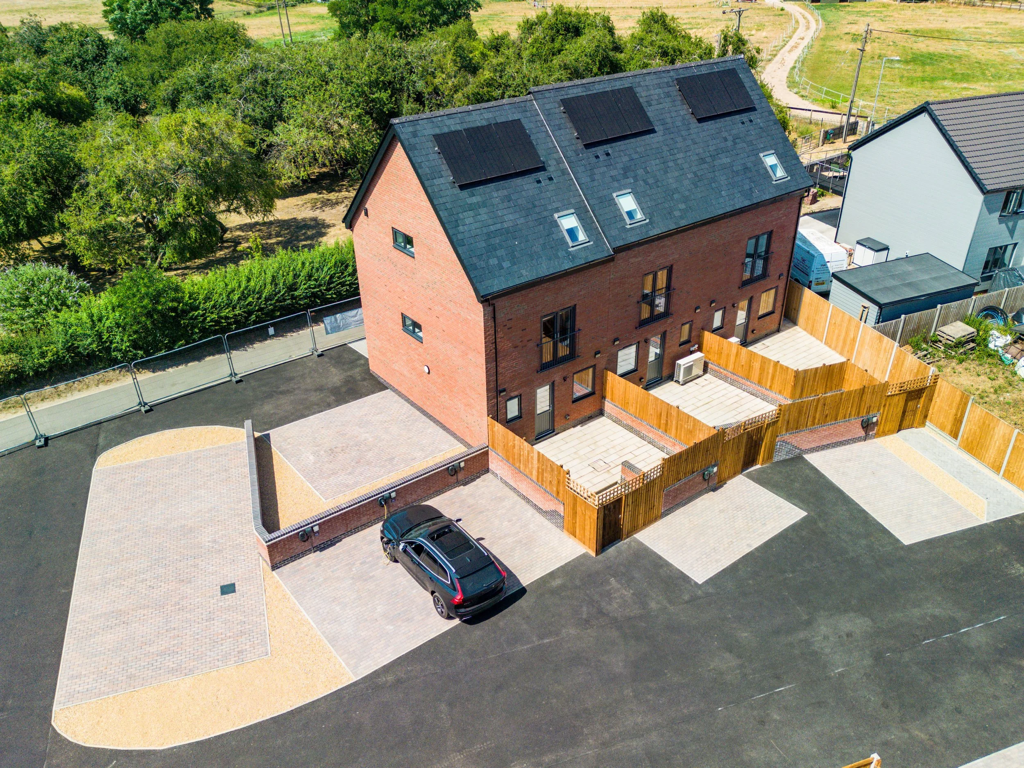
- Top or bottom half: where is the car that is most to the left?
bottom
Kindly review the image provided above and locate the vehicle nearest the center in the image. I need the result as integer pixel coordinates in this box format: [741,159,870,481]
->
[376,497,513,623]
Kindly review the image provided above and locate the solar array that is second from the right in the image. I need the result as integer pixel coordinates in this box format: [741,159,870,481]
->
[564,94,658,152]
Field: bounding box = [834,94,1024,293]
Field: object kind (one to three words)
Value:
house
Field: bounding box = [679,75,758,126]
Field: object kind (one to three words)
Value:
solar array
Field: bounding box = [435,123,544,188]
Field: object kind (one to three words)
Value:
solar array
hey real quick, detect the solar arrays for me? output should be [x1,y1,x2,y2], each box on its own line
[435,123,544,188]
[679,75,758,126]
[564,94,658,152]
